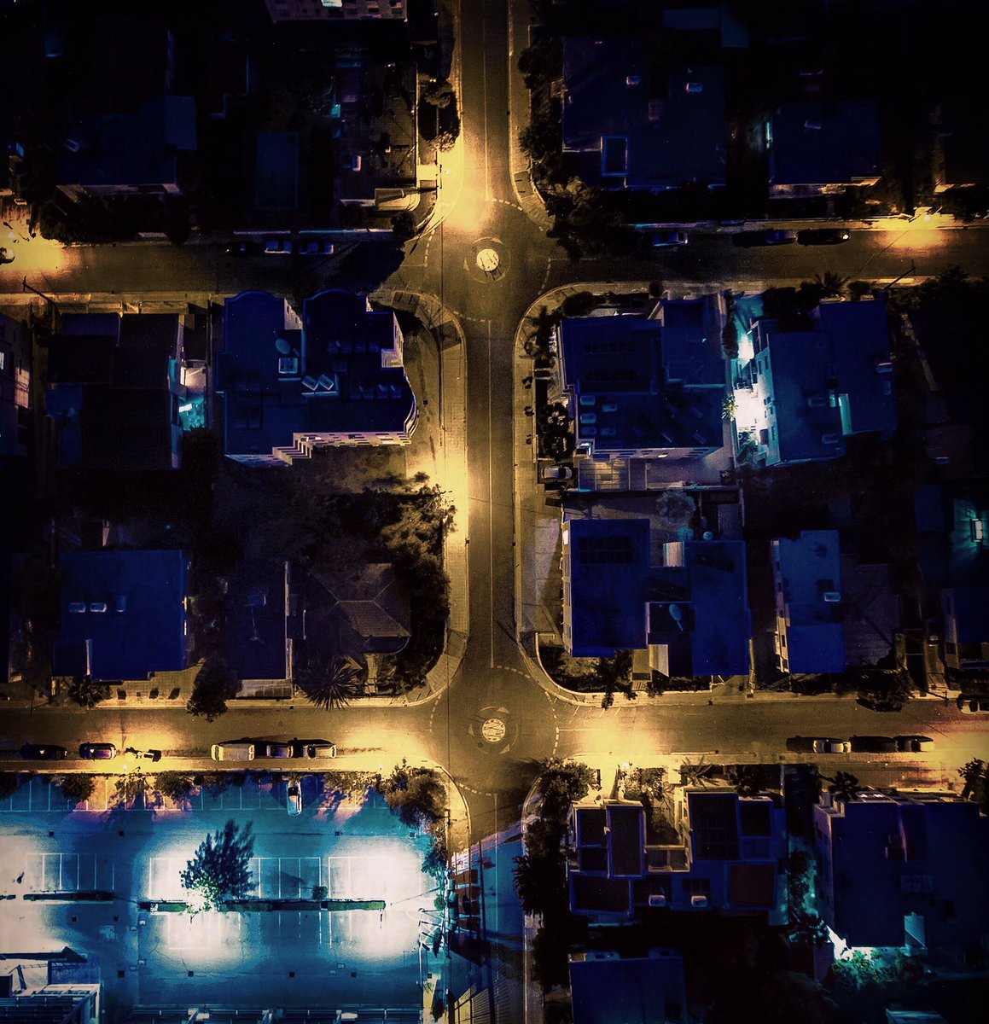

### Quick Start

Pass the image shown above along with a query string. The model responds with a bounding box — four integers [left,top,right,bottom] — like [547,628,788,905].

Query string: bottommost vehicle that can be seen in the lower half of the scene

[285,780,303,816]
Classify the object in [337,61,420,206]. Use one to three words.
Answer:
house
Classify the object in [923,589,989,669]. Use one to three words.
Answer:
house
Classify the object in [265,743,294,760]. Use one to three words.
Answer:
car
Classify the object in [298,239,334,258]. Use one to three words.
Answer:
car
